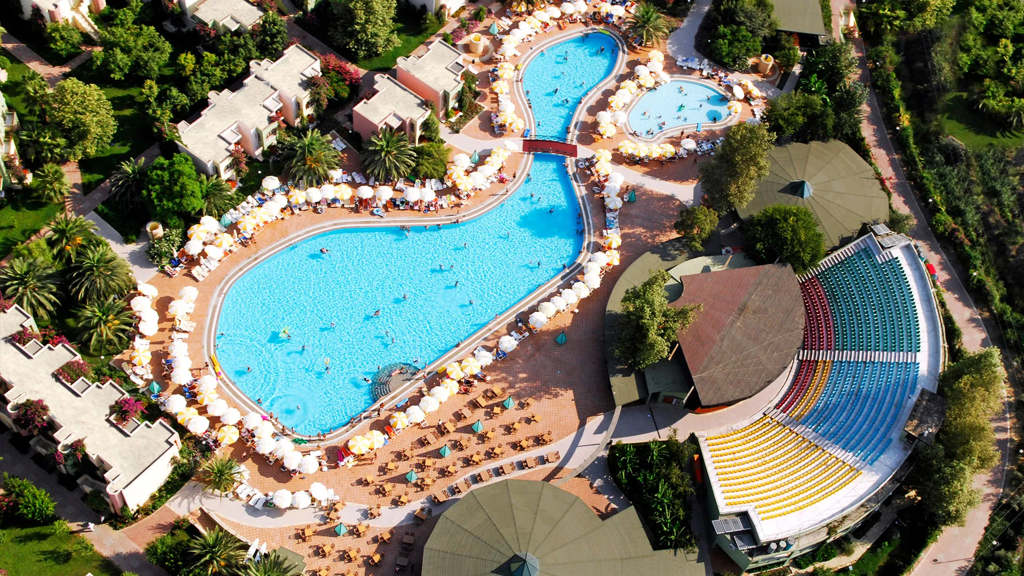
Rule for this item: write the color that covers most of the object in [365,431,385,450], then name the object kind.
white umbrella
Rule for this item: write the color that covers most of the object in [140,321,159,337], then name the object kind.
white umbrella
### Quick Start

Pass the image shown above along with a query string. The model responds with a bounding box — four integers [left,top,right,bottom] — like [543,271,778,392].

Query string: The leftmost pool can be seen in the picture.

[214,32,619,435]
